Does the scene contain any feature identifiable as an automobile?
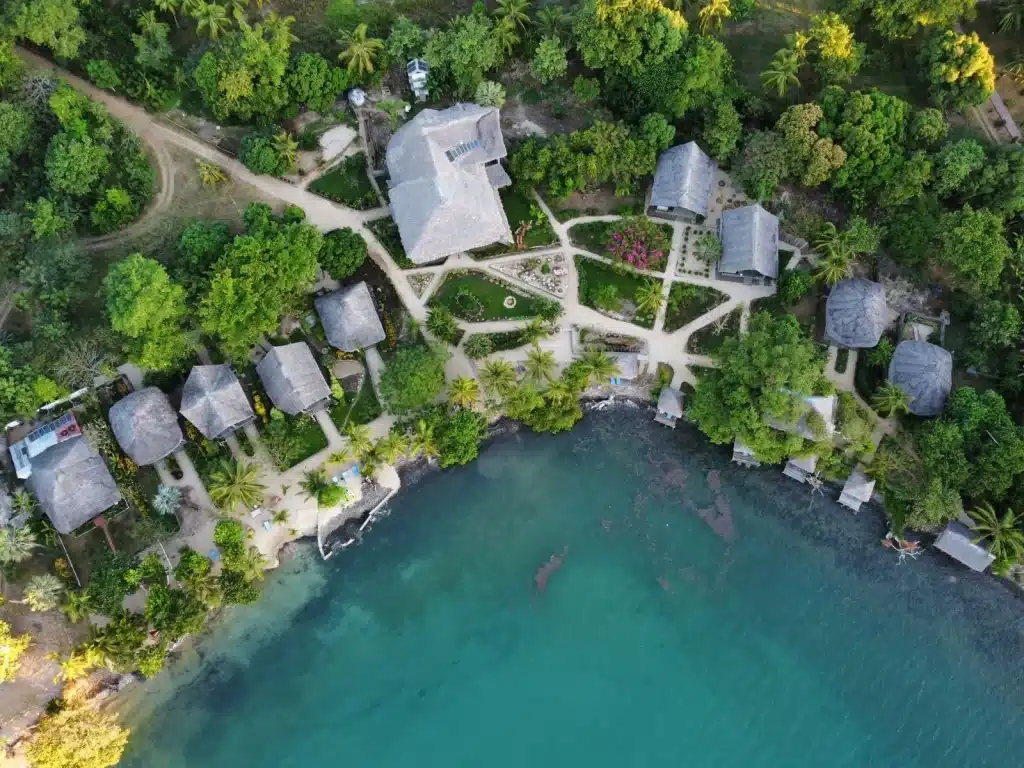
No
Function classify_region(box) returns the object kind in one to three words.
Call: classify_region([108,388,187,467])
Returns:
shed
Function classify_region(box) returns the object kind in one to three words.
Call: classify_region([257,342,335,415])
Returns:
shed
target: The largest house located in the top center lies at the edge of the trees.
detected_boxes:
[387,103,513,265]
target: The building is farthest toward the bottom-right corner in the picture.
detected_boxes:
[925,516,998,572]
